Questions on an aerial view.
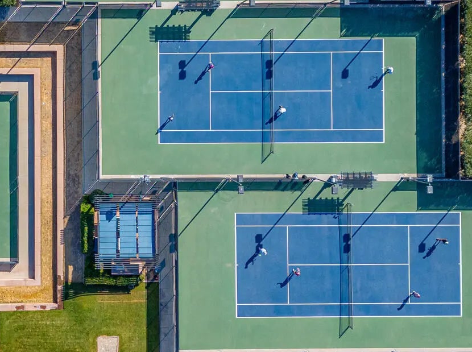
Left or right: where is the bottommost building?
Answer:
left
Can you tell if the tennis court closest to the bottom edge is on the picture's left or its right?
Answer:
right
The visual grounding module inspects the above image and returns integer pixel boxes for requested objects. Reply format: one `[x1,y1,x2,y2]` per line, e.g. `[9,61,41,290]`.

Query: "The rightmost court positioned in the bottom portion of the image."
[175,179,472,352]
